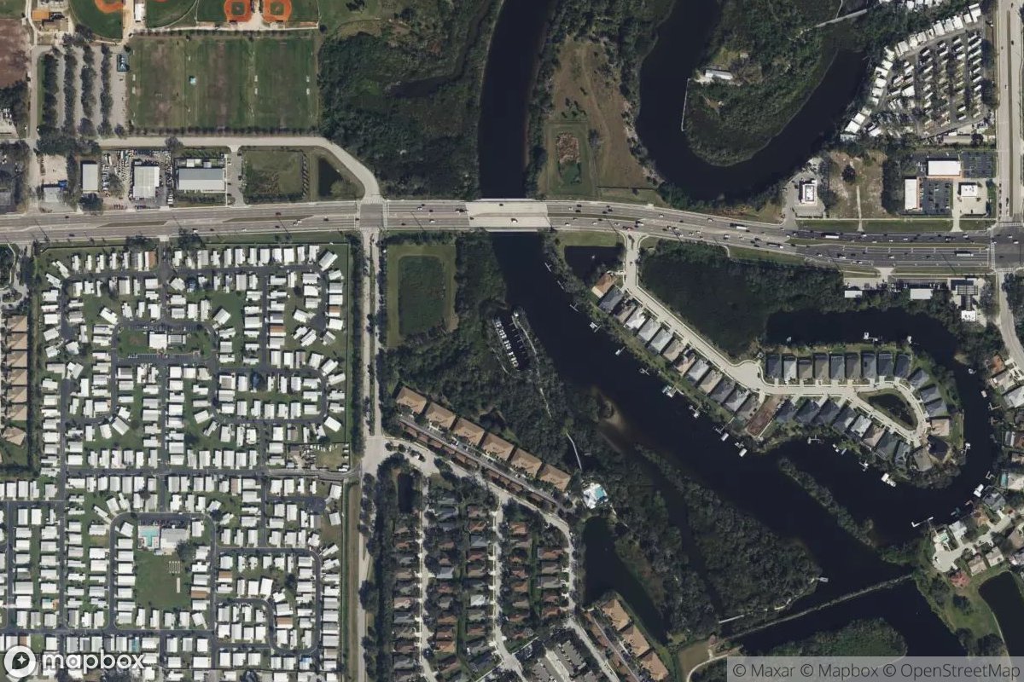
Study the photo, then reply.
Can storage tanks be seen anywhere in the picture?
No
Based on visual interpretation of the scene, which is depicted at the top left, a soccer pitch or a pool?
soccer pitch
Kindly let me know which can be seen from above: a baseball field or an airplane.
baseball field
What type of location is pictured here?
residential area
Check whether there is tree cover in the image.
Yes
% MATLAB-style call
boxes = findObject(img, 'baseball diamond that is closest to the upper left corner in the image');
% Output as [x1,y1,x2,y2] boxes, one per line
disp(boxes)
[71,0,123,39]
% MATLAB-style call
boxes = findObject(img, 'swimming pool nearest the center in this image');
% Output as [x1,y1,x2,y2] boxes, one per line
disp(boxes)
[583,484,608,509]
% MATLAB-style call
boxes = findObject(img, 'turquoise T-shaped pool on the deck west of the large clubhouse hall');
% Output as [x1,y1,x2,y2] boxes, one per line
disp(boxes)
[138,526,160,549]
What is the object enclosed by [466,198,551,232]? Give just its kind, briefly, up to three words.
bridge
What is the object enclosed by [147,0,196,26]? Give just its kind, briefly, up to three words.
baseball field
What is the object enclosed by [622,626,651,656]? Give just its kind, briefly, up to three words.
building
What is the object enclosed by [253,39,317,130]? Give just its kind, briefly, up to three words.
soccer field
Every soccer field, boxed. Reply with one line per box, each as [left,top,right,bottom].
[131,36,185,130]
[253,39,317,130]
[185,39,255,130]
